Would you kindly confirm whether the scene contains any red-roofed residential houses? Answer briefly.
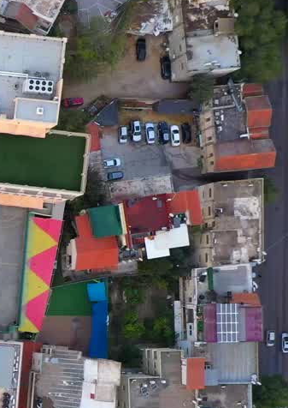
Yes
